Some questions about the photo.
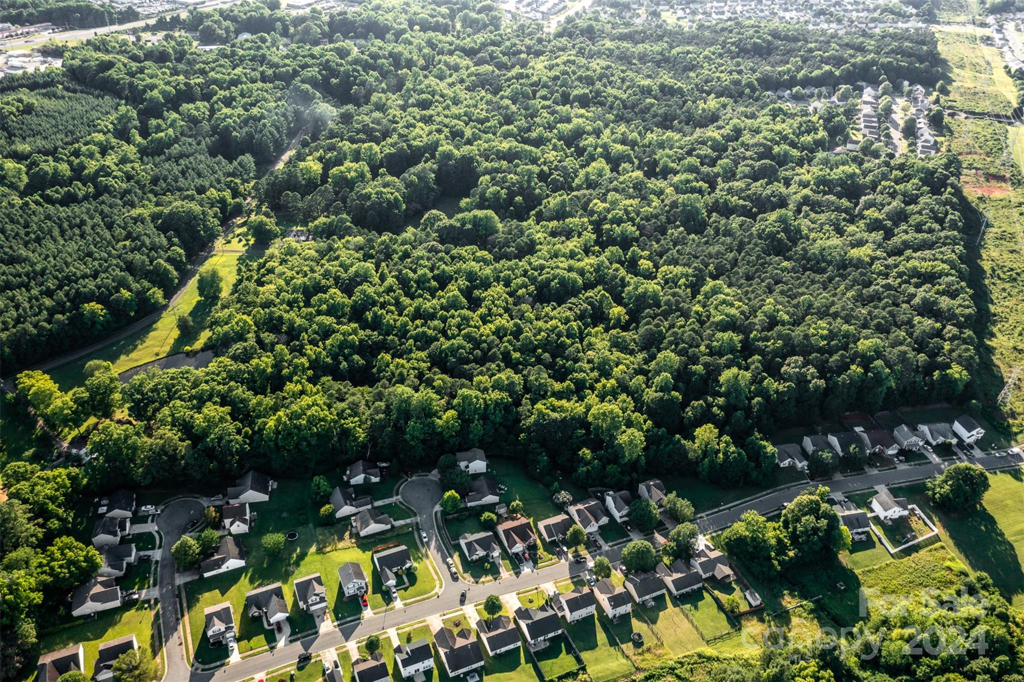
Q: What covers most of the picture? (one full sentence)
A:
For the most part, this view shows trees.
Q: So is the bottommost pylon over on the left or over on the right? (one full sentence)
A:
The bottommost pylon sits on the right side.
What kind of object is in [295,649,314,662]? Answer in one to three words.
vehicle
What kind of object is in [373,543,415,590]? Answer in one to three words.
house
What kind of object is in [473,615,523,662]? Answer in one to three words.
house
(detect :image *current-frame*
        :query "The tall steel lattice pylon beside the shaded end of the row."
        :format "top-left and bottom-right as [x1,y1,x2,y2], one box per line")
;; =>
[995,365,1024,407]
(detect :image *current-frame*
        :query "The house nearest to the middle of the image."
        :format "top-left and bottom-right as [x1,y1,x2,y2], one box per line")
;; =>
[456,448,488,474]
